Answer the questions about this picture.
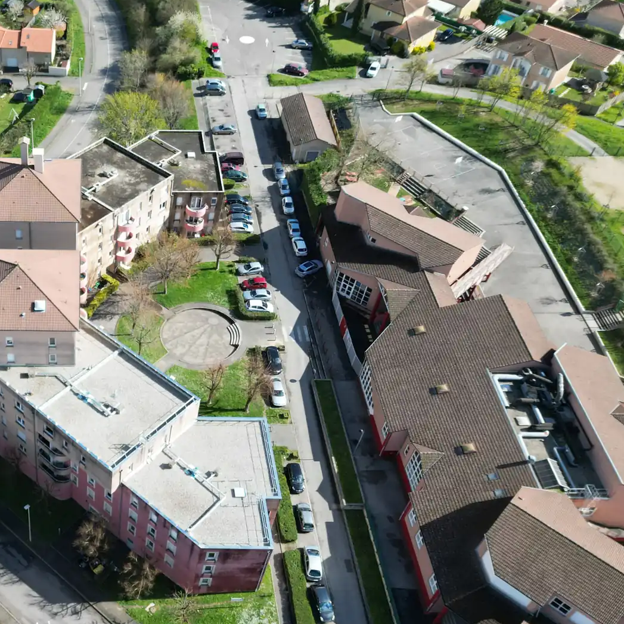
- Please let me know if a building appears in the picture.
Yes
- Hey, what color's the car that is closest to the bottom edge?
blue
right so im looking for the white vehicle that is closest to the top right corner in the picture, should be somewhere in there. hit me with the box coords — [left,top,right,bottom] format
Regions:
[366,64,380,77]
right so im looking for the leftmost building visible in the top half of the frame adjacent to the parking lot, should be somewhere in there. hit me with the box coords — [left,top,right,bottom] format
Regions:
[0,129,224,305]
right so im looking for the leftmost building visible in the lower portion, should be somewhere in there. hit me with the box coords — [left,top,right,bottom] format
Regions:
[0,249,284,593]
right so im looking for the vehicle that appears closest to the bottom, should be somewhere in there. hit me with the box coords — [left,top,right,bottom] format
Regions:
[311,583,335,624]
